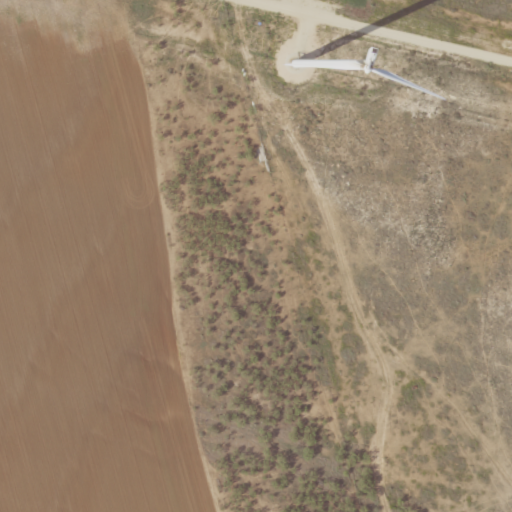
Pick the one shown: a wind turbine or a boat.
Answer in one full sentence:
Of the two, only a wind turbine appears.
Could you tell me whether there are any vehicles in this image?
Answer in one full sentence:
No, there isn't any vehicle down there.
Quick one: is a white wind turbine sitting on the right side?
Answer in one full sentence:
Yes, the scene does show a white wind turbine on the right side.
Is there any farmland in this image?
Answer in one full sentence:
Yes, farmland can be seen from above here.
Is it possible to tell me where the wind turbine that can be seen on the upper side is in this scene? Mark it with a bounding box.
[286,46,444,98]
